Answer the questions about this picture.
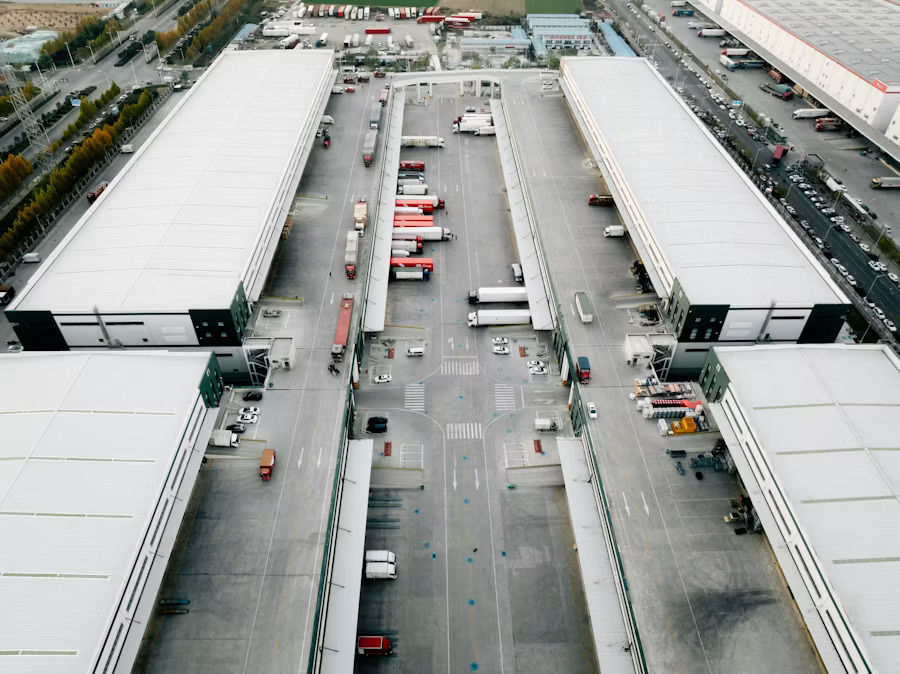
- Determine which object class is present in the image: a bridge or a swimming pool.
bridge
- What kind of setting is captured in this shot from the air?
industrial area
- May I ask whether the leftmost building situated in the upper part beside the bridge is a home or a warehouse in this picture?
warehouse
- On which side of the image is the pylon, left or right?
left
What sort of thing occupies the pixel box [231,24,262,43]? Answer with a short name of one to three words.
building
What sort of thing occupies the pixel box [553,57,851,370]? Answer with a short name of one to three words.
warehouse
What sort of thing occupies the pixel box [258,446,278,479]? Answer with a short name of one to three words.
vehicle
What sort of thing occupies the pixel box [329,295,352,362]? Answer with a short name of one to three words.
truck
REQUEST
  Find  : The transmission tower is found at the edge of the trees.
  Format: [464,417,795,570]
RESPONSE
[0,36,56,175]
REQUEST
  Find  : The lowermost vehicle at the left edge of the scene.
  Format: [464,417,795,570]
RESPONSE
[0,282,23,307]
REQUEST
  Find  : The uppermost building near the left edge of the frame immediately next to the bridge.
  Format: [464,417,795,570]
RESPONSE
[4,51,343,375]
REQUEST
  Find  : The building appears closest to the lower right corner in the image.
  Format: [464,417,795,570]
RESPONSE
[699,344,900,674]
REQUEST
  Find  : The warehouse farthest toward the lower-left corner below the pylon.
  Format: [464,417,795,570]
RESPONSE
[0,350,223,674]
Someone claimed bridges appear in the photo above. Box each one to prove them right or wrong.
[339,69,552,101]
